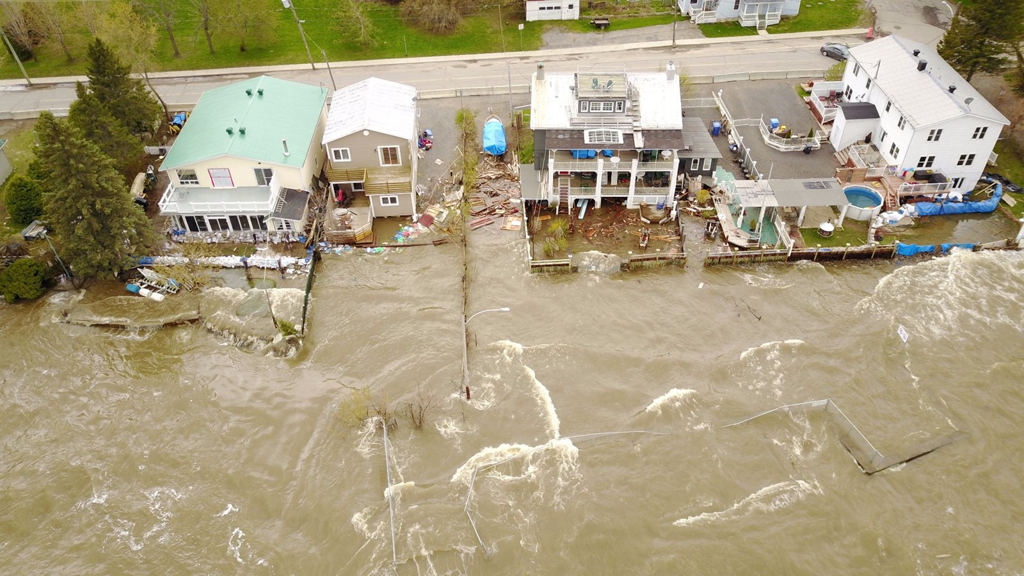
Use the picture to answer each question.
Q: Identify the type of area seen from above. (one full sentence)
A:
This looks like a residential area.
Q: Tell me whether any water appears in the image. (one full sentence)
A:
Yes, some water is visible.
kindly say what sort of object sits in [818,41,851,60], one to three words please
car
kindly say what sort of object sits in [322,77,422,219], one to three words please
house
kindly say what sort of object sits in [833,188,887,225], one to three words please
swimming pool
